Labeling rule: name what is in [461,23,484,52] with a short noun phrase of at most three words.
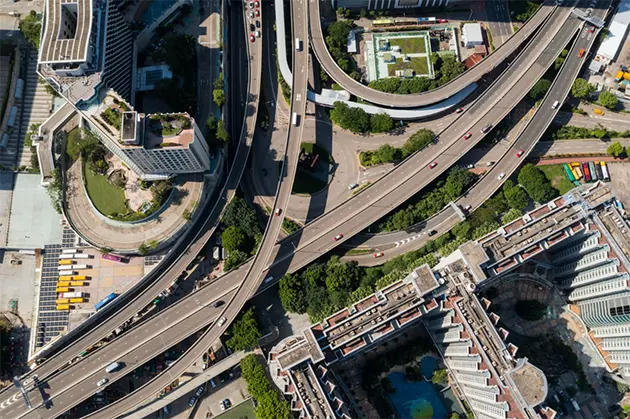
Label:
building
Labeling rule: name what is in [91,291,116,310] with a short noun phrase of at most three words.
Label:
vehicle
